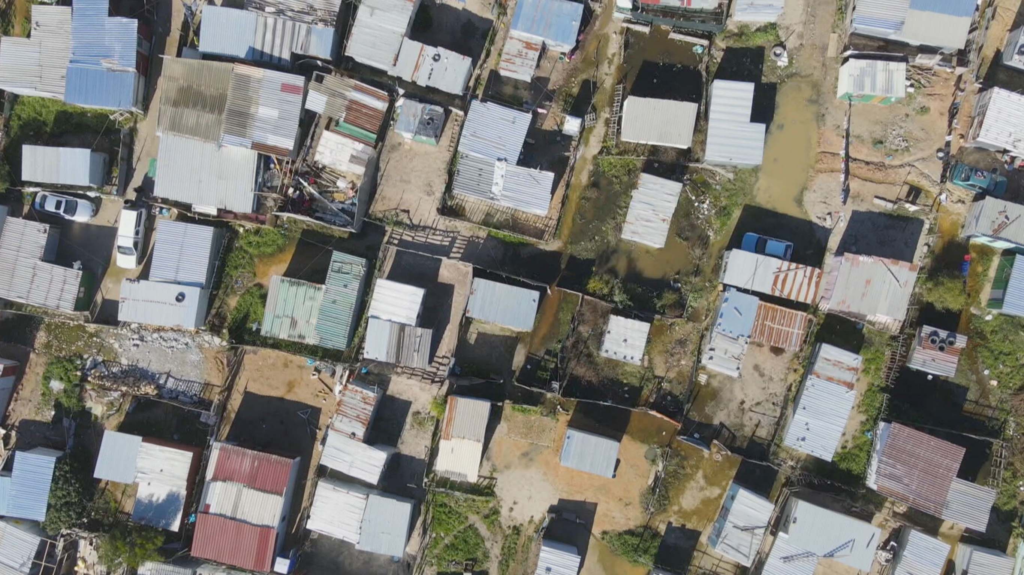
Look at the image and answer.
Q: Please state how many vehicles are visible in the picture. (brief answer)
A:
4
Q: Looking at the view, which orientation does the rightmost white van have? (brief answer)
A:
vertically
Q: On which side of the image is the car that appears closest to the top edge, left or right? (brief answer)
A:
right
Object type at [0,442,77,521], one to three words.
shed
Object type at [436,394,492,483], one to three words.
shed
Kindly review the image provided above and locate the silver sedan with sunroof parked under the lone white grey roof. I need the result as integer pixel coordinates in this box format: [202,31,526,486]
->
[35,191,102,224]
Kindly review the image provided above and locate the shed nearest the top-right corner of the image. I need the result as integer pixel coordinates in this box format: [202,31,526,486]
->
[986,19,1024,86]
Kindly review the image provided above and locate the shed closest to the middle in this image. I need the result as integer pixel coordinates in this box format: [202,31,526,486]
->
[466,278,540,331]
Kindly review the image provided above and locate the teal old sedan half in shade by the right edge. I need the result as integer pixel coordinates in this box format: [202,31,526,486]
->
[943,161,1008,197]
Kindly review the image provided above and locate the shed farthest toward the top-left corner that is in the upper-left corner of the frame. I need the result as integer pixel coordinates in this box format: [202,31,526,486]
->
[0,5,72,101]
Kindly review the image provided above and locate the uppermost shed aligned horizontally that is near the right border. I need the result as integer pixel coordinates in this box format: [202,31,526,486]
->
[840,0,977,57]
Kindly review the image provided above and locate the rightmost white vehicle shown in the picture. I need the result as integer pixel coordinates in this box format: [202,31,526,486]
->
[115,207,150,271]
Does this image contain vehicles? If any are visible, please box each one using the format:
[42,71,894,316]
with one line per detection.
[35,191,102,224]
[736,234,794,262]
[115,207,150,271]
[943,161,1008,197]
